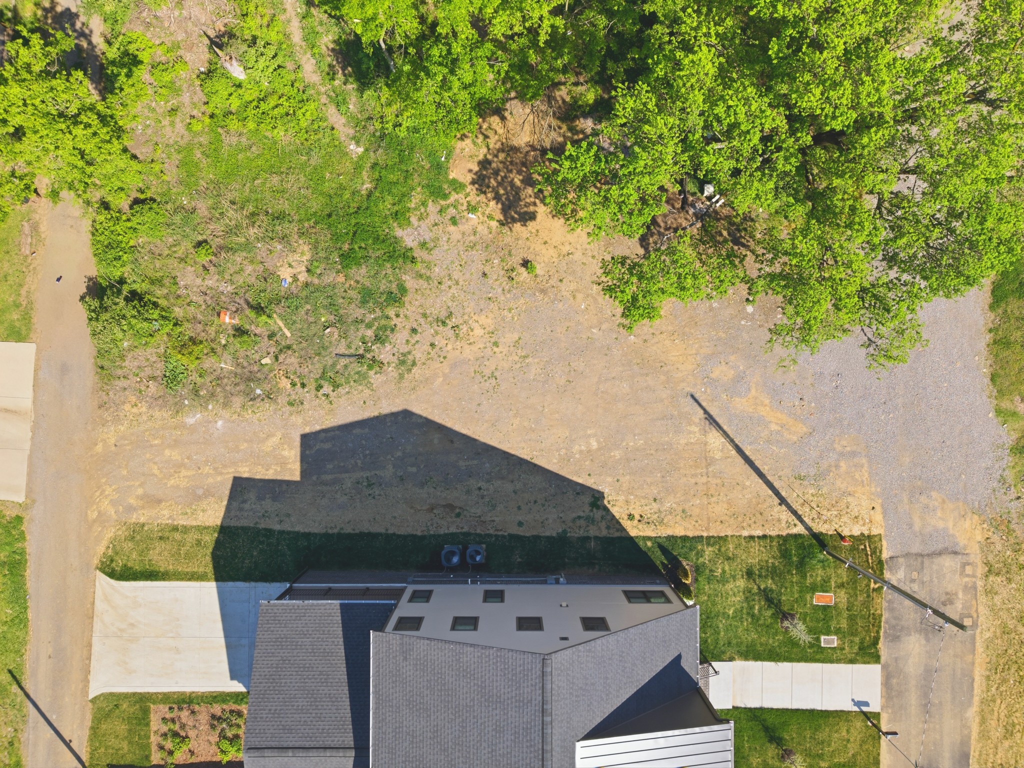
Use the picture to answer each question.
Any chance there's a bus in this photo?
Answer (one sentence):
No, there isn't any bus down there.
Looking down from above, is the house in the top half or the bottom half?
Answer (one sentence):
The bottom half of the photo is where the house is.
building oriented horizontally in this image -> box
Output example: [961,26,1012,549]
[246,570,736,768]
